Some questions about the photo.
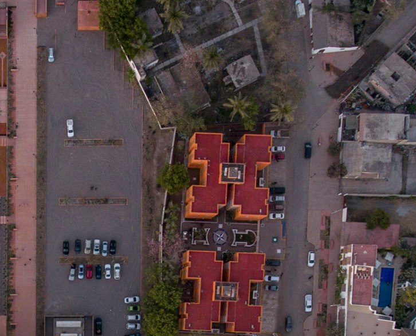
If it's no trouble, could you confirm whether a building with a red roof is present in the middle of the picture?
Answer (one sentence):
Yes, the scene does show a building with a red roof in the middle of the picture.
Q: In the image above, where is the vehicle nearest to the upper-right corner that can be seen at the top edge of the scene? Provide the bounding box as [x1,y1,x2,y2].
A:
[295,0,307,19]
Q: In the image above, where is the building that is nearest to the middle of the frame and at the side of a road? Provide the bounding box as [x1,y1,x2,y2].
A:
[184,133,272,221]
